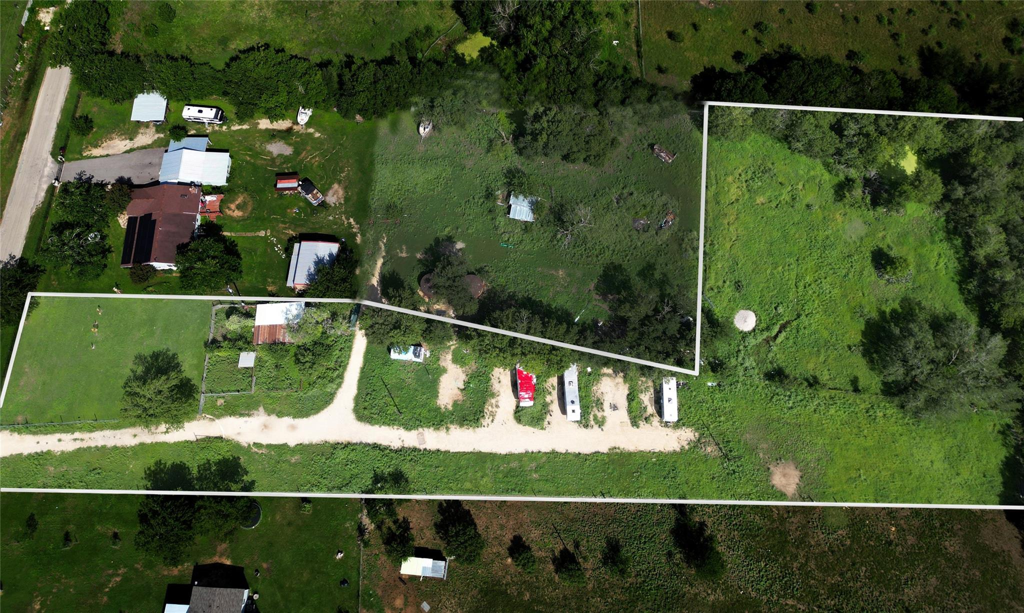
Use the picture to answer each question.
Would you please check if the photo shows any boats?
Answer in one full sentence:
Yes, a boat can be made out from above.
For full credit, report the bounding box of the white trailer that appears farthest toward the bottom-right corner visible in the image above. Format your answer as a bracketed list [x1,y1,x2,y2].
[659,379,678,430]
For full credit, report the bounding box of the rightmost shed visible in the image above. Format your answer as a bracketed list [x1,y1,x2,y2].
[507,191,535,227]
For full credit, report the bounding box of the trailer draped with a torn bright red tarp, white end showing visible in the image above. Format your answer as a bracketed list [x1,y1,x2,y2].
[515,367,535,414]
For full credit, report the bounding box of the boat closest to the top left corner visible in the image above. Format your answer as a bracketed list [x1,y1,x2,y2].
[298,105,310,125]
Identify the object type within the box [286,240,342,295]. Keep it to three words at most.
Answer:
barn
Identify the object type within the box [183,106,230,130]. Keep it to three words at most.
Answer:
trailer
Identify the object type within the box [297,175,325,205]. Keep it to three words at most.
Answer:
boat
